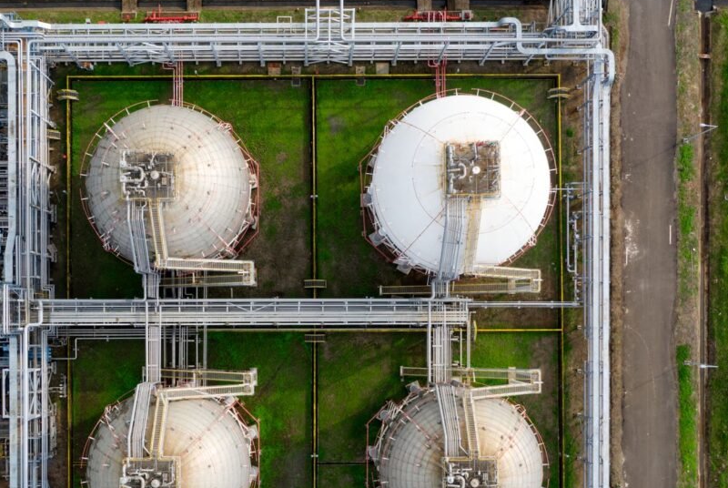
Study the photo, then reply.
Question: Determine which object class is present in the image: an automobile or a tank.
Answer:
tank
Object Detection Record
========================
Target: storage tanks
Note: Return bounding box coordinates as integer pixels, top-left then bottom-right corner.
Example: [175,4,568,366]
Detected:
[76,96,262,280]
[77,374,263,488]
[359,86,560,283]
[365,374,551,488]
